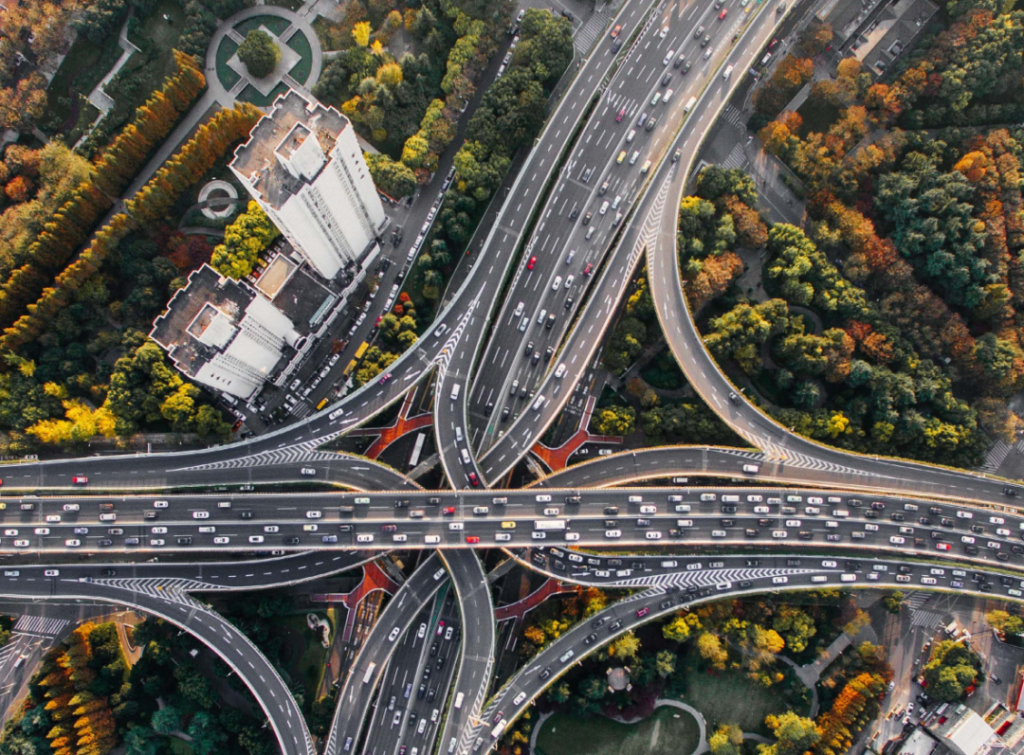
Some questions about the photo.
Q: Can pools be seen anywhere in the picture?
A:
No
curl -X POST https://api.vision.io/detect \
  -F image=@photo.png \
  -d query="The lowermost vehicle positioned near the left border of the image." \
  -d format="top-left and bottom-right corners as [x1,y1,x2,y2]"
[13,653,28,669]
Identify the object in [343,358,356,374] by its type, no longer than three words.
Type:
vehicle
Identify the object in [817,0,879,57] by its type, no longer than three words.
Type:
building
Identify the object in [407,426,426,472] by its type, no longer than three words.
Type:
vehicle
